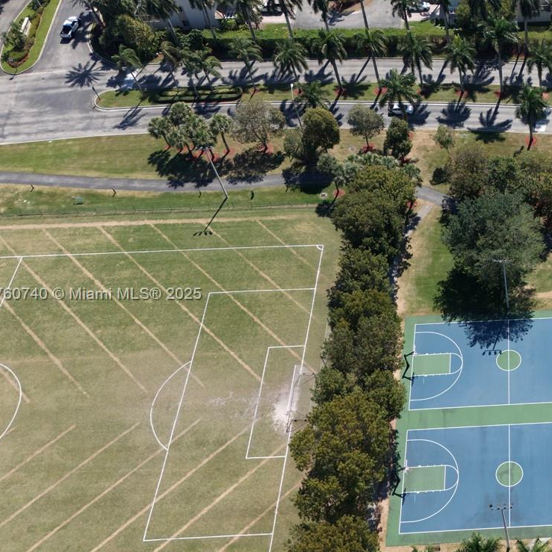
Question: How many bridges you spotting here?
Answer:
none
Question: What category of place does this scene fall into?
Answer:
sports ground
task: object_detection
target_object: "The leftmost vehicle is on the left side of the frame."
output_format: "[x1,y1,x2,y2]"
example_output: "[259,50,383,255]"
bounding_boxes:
[58,19,77,36]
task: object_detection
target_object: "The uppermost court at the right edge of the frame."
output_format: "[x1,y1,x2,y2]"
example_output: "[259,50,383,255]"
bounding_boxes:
[397,308,552,421]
